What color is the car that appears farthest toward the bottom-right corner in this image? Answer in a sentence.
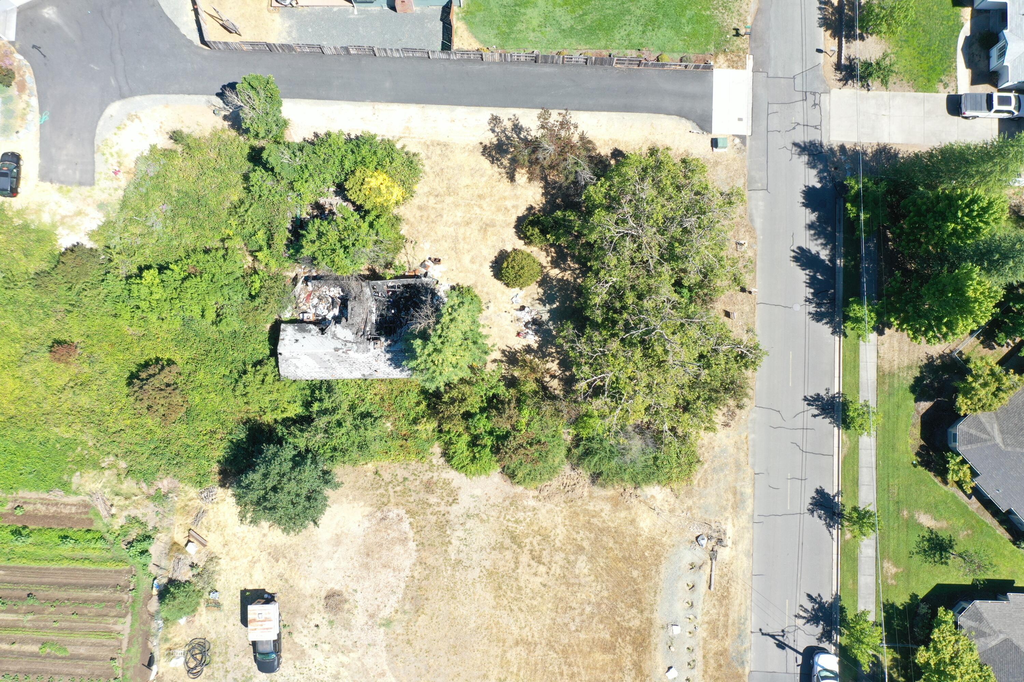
The car that appears farthest toward the bottom-right corner looks white in the image.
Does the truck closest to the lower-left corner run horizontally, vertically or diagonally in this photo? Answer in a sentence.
The truck closest to the lower-left corner runs vertically in the image.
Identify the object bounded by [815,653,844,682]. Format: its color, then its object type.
white car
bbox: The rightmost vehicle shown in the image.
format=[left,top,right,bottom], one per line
[960,88,1024,115]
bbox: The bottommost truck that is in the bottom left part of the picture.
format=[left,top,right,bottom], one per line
[248,593,283,675]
